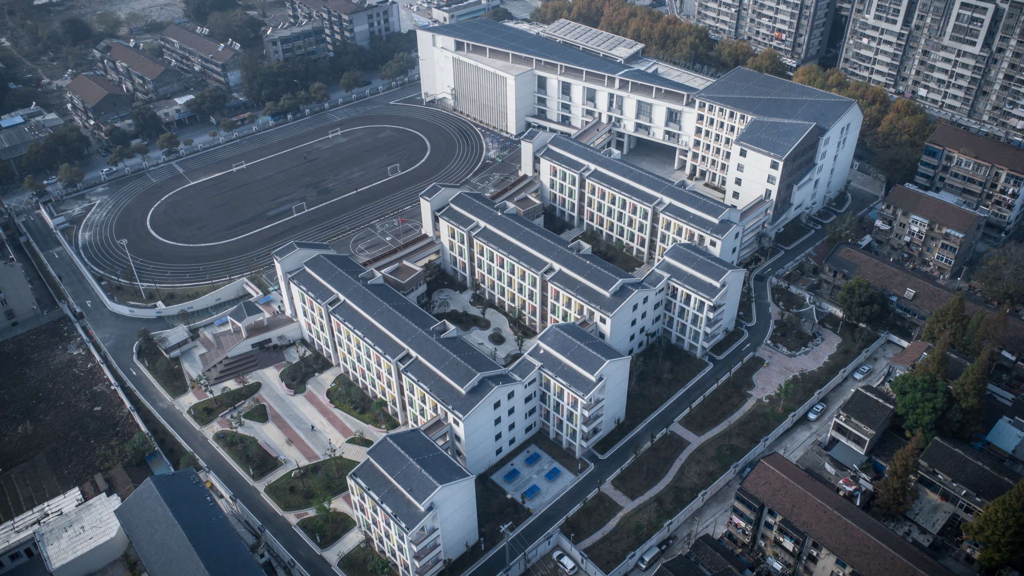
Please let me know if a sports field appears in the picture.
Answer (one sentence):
Yes, a sports field can be made out from above.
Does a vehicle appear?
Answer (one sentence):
Yes, a vehicle is visible in the scene.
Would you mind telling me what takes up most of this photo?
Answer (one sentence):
Most of the picture is covered by buildings.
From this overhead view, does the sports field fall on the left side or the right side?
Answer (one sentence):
You can find the sports field on the left side of the picture.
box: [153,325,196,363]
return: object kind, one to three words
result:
shed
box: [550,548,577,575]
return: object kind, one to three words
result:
car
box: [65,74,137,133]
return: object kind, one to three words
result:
building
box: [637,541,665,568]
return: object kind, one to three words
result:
vehicle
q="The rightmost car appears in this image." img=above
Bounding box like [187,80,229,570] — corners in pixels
[852,362,873,377]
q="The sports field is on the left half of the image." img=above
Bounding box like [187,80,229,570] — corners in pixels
[44,78,528,292]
